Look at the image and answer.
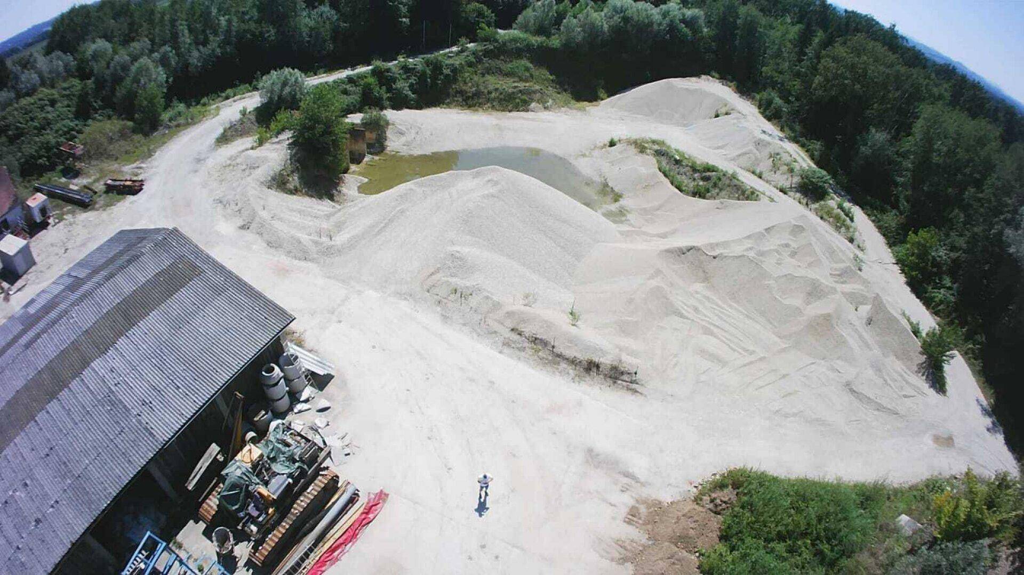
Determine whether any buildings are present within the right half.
No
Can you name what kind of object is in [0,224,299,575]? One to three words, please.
shed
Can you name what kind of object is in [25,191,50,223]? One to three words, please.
building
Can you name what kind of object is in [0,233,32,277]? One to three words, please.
building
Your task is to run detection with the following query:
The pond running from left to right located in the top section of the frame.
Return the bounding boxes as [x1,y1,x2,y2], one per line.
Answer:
[351,146,622,216]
